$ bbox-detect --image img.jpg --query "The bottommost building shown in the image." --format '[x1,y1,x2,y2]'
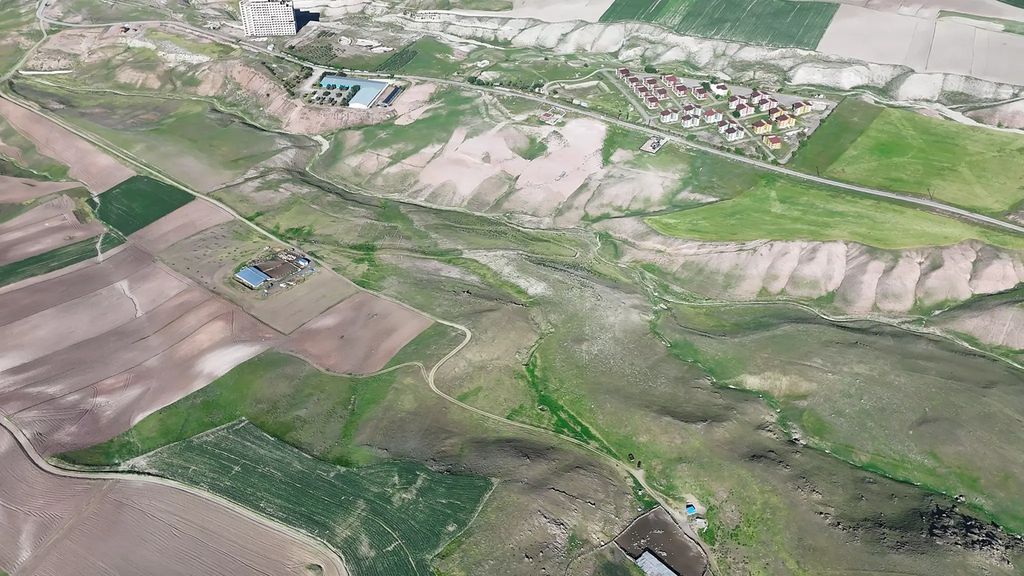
[635,548,676,576]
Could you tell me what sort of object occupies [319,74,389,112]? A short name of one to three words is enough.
building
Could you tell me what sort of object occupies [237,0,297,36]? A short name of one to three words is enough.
building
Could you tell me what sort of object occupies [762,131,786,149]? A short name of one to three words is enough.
house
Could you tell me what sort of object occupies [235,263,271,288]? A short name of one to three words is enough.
barn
